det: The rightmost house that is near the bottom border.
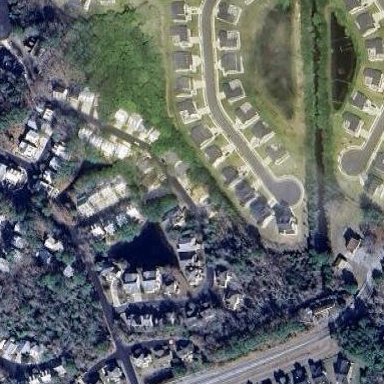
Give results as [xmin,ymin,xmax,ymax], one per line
[334,363,351,384]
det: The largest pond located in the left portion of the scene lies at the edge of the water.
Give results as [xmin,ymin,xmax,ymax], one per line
[109,221,180,271]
